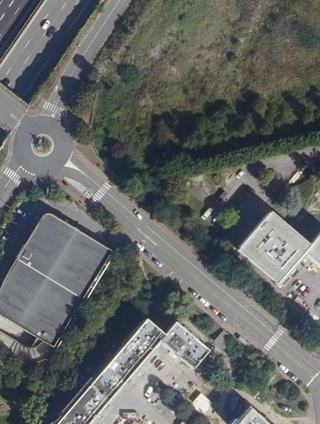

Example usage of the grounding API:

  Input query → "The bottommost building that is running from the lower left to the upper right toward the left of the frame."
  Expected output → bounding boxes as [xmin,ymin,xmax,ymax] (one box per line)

[55,316,164,424]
